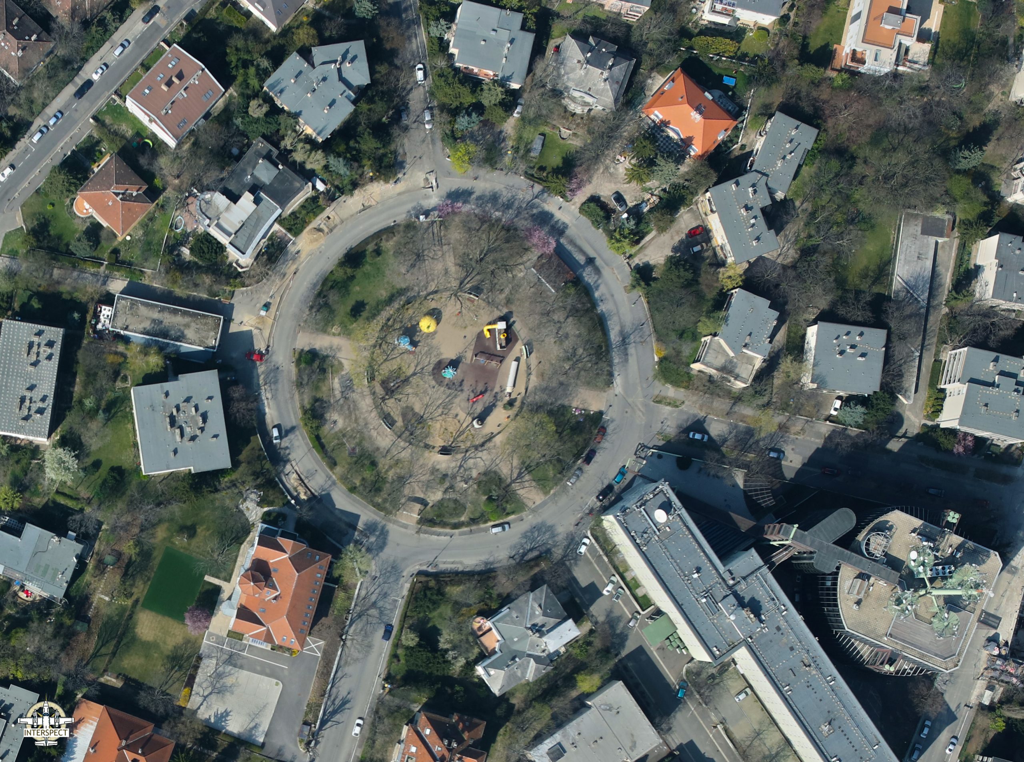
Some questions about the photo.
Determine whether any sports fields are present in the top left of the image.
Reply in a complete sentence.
No, there's no sports field to be seen in the top left of the image.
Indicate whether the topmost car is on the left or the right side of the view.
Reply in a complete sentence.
It is on the left.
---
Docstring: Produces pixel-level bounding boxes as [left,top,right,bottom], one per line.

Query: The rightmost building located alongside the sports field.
[222,523,332,651]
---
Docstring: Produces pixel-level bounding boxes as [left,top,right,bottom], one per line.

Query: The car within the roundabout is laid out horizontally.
[488,522,512,535]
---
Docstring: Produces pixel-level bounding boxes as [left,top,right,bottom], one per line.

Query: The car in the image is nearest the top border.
[140,4,161,26]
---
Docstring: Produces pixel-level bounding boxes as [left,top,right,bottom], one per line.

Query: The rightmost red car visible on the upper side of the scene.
[685,225,706,238]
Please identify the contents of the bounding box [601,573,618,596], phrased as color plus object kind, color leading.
white car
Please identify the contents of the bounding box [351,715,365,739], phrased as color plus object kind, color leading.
white car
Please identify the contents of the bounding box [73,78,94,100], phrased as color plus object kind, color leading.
black car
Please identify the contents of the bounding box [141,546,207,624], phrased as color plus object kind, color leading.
green sports field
